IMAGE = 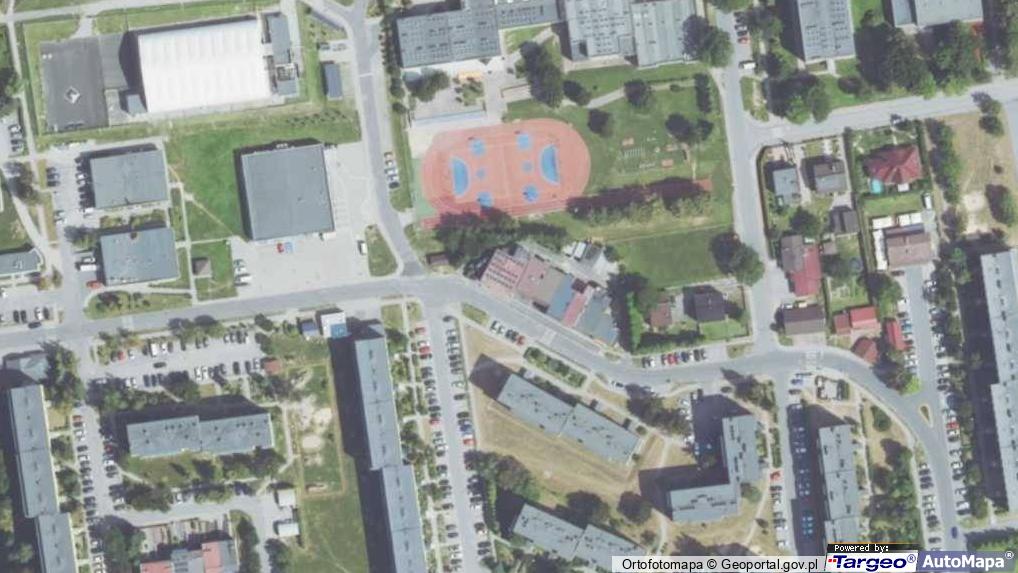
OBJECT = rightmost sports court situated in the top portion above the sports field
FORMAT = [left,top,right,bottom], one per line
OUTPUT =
[411,117,713,233]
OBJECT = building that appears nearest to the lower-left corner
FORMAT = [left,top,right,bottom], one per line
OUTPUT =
[37,511,81,573]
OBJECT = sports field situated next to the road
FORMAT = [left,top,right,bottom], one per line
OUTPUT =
[612,230,738,288]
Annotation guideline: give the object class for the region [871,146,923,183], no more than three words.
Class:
house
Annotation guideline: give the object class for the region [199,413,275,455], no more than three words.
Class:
building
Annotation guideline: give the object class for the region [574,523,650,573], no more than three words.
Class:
building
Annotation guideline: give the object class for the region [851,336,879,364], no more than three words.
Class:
shed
